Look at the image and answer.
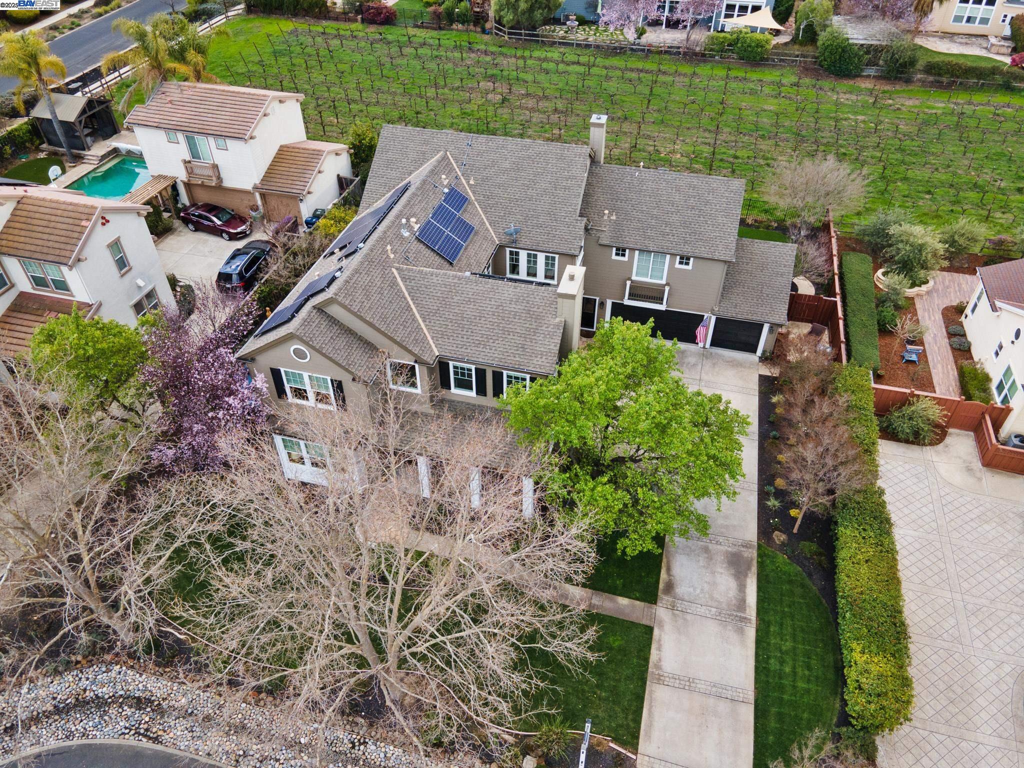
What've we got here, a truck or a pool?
pool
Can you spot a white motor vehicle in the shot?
No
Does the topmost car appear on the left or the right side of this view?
left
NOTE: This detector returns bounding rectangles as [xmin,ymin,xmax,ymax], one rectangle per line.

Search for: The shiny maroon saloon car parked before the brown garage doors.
[180,204,253,241]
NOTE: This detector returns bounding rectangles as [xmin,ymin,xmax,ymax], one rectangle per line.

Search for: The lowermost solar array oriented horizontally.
[452,268,560,288]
